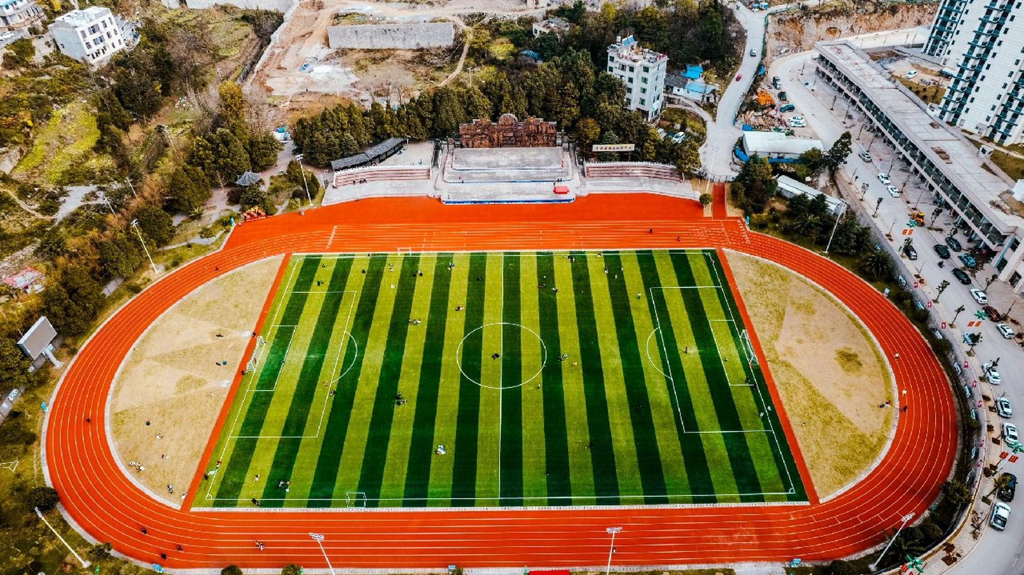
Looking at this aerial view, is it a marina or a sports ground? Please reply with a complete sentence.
This image shows a sports ground.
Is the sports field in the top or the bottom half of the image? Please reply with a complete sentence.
You can find the sports field in the bottom half.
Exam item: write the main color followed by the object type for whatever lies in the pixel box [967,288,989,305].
white car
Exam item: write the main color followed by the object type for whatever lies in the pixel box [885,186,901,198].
white vehicle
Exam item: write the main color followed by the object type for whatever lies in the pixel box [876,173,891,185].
white vehicle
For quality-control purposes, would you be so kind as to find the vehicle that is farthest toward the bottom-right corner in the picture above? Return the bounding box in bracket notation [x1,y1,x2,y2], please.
[992,502,1013,534]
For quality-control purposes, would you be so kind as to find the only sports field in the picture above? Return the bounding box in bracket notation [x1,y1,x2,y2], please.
[192,249,810,509]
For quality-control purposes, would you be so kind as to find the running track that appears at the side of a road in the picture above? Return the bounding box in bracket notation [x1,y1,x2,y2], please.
[41,185,963,575]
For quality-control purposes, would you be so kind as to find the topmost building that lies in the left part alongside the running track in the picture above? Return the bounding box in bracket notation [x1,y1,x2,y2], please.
[328,129,405,175]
